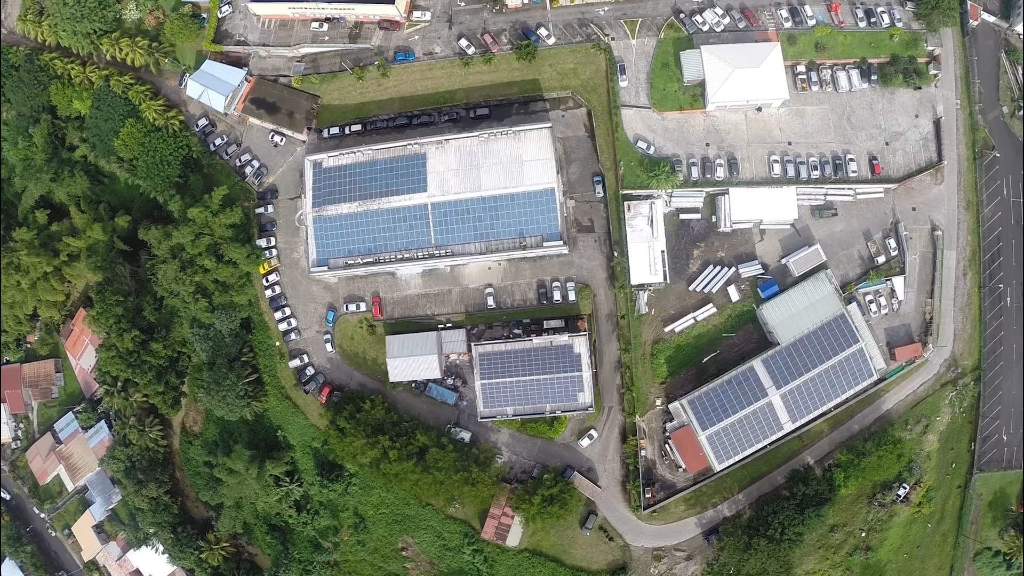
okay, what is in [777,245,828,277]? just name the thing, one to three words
building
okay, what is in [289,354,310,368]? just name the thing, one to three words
car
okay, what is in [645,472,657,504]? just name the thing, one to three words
vehicle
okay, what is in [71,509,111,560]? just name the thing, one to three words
house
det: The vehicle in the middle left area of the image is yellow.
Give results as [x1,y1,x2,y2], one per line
[261,259,282,271]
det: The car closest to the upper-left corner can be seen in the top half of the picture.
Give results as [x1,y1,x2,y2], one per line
[178,71,192,91]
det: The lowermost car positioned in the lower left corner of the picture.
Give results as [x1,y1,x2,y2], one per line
[43,519,60,538]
